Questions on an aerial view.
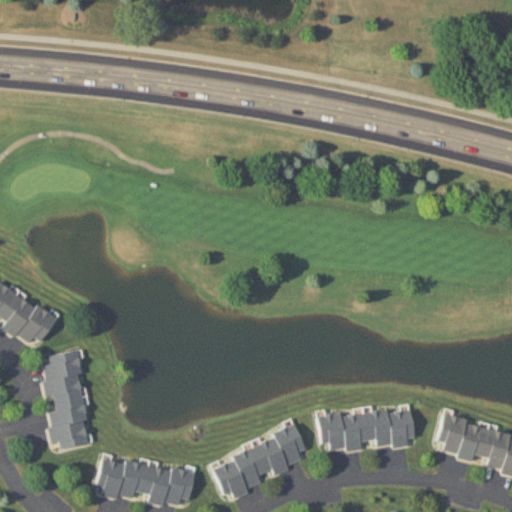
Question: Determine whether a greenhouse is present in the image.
No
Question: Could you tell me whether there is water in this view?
Yes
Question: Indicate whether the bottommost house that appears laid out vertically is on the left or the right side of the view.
left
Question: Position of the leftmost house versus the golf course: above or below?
below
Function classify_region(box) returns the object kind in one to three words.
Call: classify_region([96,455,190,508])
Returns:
house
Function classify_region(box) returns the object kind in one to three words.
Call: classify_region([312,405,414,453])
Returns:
house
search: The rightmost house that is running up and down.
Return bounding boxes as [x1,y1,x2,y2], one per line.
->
[42,352,94,452]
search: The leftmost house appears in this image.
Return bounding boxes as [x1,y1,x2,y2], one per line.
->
[0,282,58,346]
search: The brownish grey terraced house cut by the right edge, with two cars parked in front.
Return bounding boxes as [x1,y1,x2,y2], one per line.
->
[434,412,512,478]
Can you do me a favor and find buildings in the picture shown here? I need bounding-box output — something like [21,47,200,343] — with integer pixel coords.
[312,405,414,453]
[0,282,58,346]
[204,422,300,498]
[434,412,512,478]
[42,352,94,452]
[96,455,190,508]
